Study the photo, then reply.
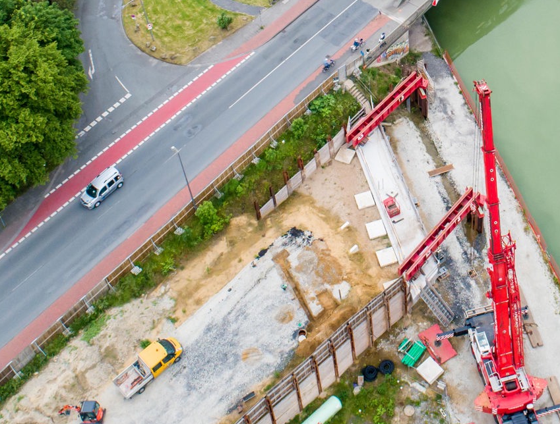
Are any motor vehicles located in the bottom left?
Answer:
Yes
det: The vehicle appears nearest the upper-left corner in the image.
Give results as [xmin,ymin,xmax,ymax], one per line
[75,167,126,213]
